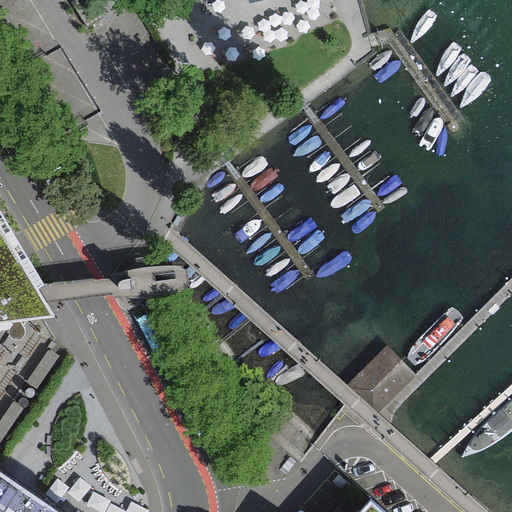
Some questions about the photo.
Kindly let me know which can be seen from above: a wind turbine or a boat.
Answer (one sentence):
Of the two, only a boat appears.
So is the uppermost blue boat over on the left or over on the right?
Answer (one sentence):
The uppermost blue boat appears in the right half of the scene.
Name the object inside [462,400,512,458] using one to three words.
ship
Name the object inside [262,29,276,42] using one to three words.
umbrella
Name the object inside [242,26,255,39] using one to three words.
umbrella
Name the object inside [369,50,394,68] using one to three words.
boat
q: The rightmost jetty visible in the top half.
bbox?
[390,32,465,130]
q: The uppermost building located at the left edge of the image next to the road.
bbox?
[0,220,54,326]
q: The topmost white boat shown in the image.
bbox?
[412,12,436,42]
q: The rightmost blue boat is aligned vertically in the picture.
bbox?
[436,123,448,156]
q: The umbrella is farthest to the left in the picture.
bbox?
[48,478,67,498]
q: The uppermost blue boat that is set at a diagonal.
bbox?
[374,60,402,82]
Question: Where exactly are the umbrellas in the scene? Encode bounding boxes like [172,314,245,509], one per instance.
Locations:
[308,7,320,20]
[282,11,296,25]
[109,503,128,512]
[306,0,320,8]
[262,29,276,42]
[295,0,309,14]
[258,18,271,32]
[86,494,110,512]
[275,28,288,41]
[270,14,282,26]
[225,46,239,60]
[252,46,266,60]
[218,26,232,40]
[242,26,255,39]
[297,20,310,32]
[48,478,67,498]
[212,0,225,12]
[68,478,90,502]
[128,501,147,512]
